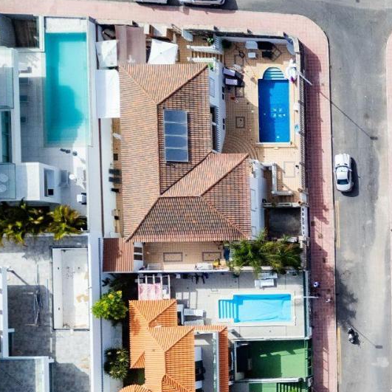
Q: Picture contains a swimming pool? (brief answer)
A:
Yes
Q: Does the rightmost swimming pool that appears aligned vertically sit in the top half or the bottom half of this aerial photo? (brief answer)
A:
top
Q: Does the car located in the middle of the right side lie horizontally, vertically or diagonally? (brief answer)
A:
vertically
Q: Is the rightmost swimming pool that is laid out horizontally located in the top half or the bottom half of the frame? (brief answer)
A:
bottom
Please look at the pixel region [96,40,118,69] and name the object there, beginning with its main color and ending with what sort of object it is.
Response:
white umbrella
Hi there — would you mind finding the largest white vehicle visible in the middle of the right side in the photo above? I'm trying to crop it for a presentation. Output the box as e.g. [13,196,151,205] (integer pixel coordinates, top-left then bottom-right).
[333,153,354,193]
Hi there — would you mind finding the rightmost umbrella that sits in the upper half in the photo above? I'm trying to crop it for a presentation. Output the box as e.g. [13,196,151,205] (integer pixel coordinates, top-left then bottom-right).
[152,39,180,63]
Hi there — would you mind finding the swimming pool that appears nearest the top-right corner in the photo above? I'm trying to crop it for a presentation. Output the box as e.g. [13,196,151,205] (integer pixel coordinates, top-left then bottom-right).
[255,65,293,145]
